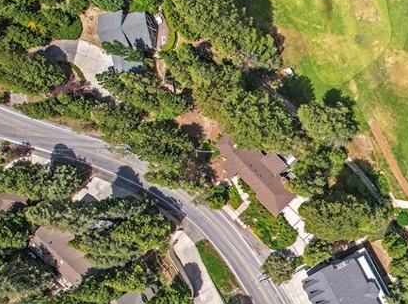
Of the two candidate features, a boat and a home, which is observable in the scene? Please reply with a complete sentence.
Visible in the photo is a home.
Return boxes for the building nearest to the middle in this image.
[216,136,298,216]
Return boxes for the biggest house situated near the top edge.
[97,9,164,52]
